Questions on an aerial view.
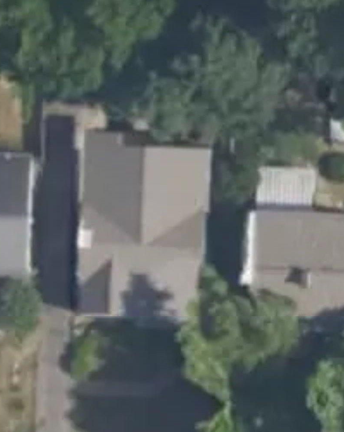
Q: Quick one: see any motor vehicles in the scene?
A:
No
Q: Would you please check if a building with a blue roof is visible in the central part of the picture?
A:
No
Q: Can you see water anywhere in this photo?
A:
No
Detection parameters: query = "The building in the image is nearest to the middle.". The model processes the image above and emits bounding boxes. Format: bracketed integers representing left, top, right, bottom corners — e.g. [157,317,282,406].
[75,131,212,317]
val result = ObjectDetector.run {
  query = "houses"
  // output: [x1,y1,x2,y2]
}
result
[75,131,212,317]
[0,150,32,278]
[242,209,344,331]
